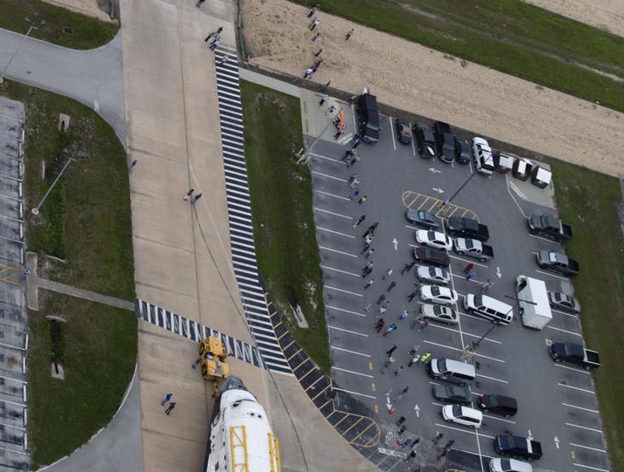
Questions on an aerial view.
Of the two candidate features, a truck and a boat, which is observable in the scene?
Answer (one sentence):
This aerial view contains a truck.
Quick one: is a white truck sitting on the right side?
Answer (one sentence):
Yes, on the right side there is a white truck.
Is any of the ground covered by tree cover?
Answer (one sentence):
No, no tree cover is visible.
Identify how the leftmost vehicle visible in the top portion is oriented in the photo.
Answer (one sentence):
In this picture, the leftmost vehicle visible in the top portion lies up and down.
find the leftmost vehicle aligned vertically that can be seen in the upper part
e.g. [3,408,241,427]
[355,96,379,143]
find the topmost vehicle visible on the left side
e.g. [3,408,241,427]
[197,329,229,388]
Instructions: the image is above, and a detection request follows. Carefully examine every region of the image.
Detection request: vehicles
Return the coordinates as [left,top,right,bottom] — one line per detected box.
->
[413,229,452,251]
[469,140,493,174]
[453,133,473,168]
[440,403,484,429]
[493,434,541,461]
[403,207,441,230]
[551,342,597,370]
[418,283,457,307]
[444,217,489,243]
[430,356,473,383]
[355,96,379,143]
[451,238,495,264]
[412,122,433,160]
[392,114,412,149]
[197,329,229,388]
[419,303,458,327]
[432,122,455,164]
[535,252,578,277]
[411,244,452,269]
[476,394,517,419]
[527,216,571,241]
[413,264,451,287]
[463,296,514,323]
[431,383,472,406]
[514,282,555,343]
[488,456,531,472]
